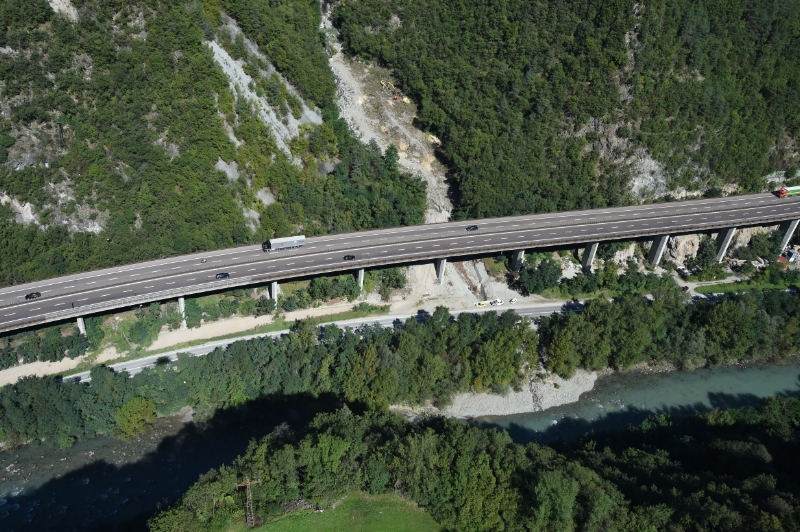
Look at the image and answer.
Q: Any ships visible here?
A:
No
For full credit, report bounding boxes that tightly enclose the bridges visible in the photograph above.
[0,188,800,341]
